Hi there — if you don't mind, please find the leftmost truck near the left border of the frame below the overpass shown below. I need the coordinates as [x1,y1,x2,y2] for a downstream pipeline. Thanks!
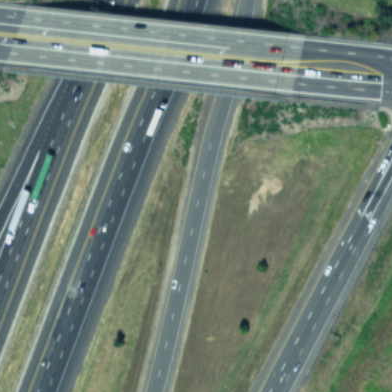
[4,190,29,244]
